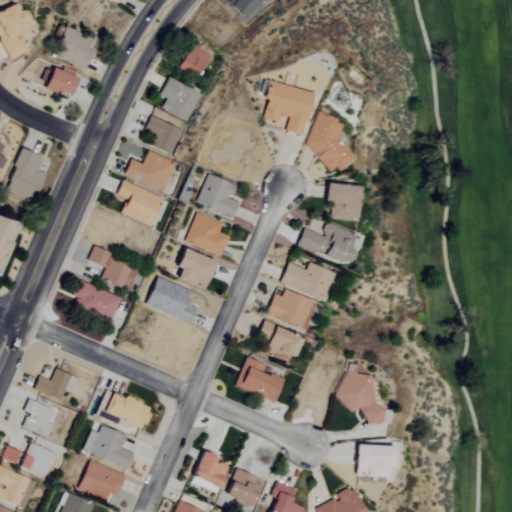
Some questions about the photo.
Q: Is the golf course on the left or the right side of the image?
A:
right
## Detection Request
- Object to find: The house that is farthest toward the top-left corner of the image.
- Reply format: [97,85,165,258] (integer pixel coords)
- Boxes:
[0,2,38,61]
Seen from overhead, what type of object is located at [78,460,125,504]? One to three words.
house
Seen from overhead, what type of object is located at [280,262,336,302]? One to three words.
house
